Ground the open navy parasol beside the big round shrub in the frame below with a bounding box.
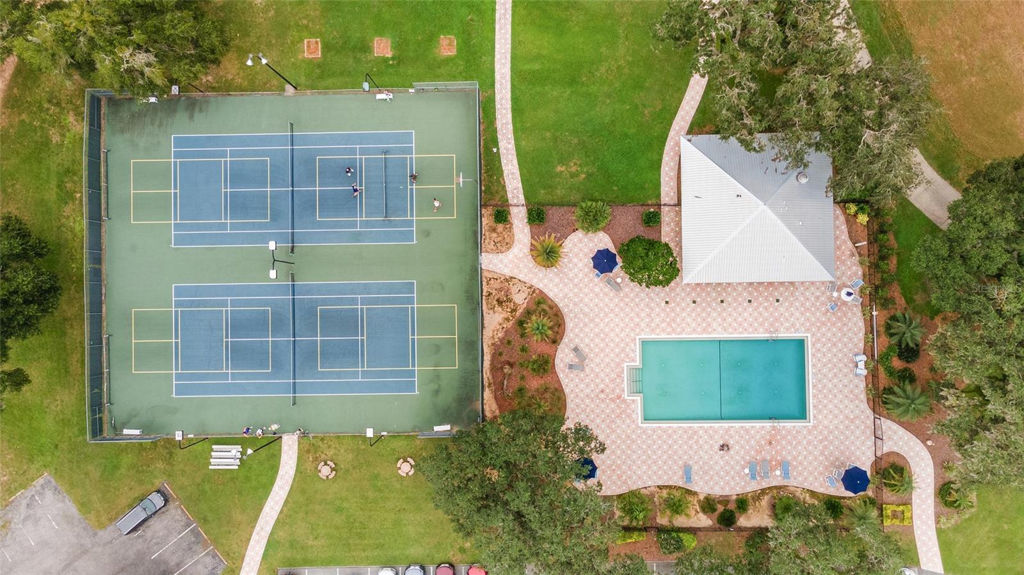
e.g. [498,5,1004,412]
[591,247,618,274]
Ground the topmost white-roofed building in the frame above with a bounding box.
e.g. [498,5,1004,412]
[681,132,835,284]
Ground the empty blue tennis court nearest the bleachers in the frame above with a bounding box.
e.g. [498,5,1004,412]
[107,262,481,436]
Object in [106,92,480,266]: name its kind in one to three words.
tennis court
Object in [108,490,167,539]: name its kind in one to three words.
van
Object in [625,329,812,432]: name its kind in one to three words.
swimming pool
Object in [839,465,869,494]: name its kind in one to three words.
umbrella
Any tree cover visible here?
Yes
